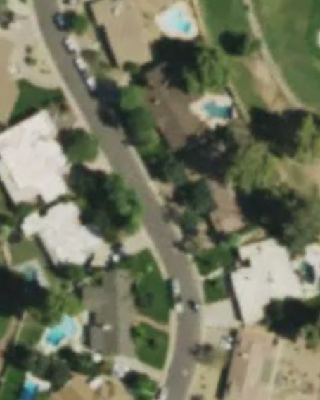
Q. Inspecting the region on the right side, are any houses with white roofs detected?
Yes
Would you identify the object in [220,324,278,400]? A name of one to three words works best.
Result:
house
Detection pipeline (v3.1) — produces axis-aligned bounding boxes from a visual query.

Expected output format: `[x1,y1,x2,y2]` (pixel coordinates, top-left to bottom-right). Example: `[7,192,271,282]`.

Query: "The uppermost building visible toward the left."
[90,0,162,68]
